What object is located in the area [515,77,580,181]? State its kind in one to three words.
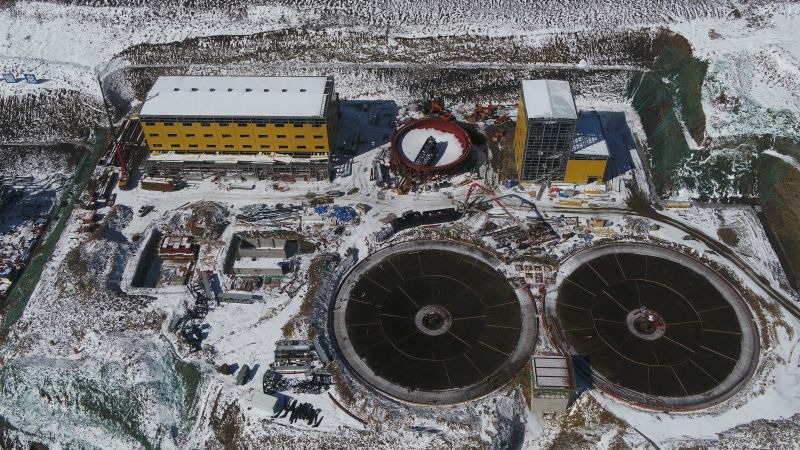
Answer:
building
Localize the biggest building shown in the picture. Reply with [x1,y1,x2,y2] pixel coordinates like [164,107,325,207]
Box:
[138,75,338,184]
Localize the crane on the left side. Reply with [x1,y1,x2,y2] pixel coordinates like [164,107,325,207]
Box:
[97,76,134,187]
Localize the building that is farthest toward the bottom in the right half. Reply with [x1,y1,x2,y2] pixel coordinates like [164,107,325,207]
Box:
[528,354,584,420]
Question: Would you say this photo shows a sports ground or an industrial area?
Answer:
industrial area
